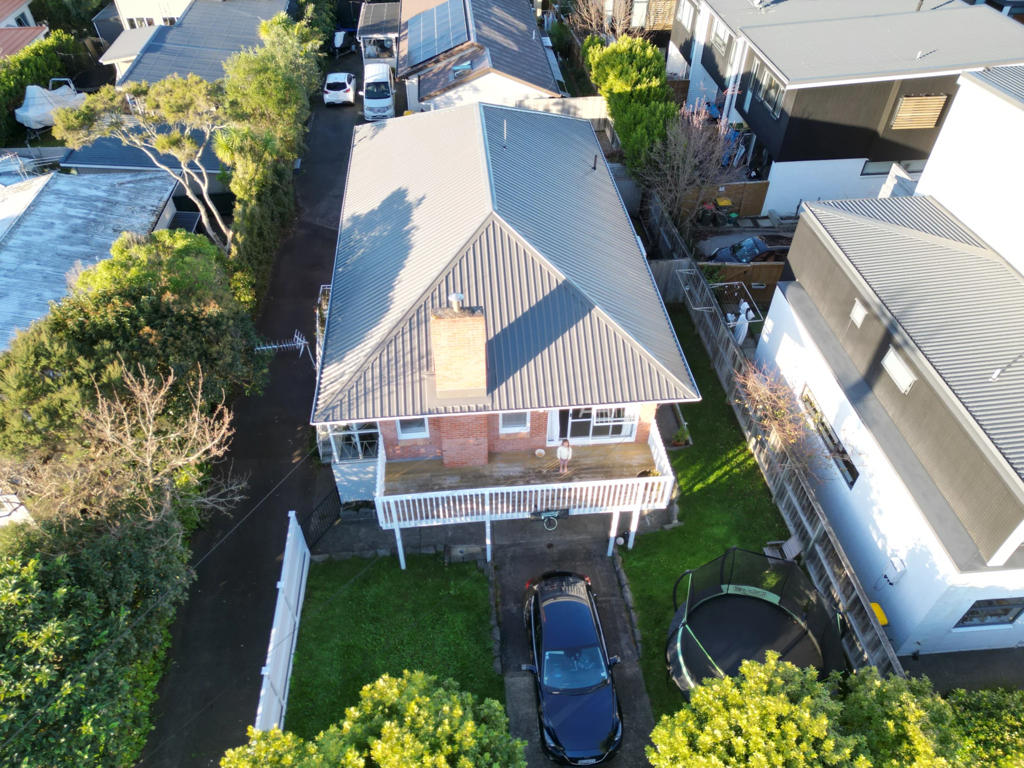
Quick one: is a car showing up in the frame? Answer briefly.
Yes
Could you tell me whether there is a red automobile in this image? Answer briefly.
No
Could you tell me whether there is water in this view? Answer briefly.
No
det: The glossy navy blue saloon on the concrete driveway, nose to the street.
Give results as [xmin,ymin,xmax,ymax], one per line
[522,563,627,768]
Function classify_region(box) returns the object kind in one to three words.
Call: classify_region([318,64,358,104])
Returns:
car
